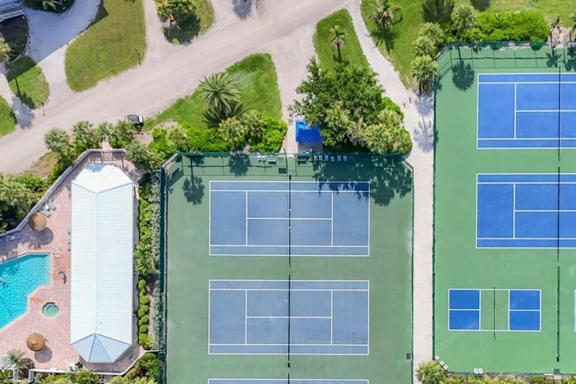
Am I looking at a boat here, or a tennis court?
tennis court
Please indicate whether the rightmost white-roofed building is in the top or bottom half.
bottom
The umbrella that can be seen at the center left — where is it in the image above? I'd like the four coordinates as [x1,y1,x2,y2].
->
[29,212,47,231]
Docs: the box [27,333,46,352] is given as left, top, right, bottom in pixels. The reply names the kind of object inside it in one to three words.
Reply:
umbrella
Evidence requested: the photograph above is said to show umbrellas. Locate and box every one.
[27,333,46,352]
[29,212,47,231]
